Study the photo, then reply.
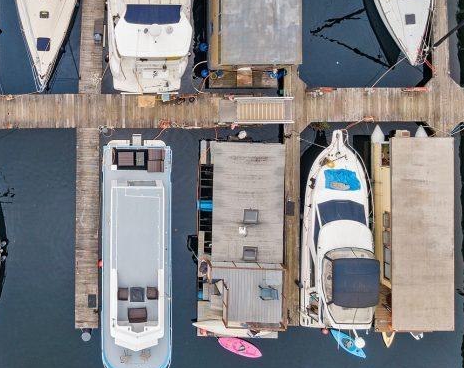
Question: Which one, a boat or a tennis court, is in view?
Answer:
boat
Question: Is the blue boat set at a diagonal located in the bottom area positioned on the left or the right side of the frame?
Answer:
right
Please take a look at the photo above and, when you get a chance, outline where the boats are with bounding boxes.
[197,140,286,338]
[331,332,367,360]
[299,123,380,350]
[411,333,425,342]
[370,124,455,333]
[106,0,194,96]
[100,134,173,368]
[370,0,464,68]
[384,332,396,349]
[192,322,272,341]
[207,0,302,91]
[17,0,78,93]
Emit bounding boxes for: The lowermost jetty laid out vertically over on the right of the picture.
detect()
[283,90,321,327]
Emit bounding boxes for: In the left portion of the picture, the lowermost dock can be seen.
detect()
[75,129,100,327]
